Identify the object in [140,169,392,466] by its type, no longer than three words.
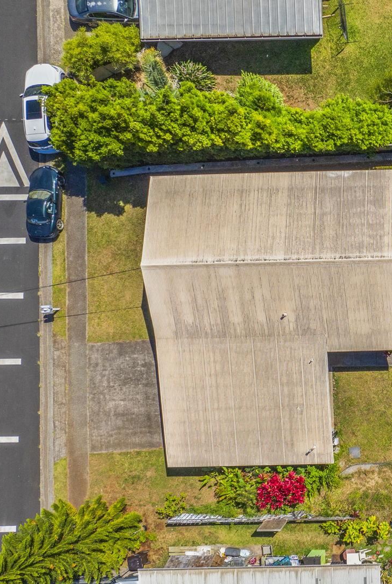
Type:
house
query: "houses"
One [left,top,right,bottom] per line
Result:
[140,169,392,466]
[137,563,382,584]
[140,0,324,42]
